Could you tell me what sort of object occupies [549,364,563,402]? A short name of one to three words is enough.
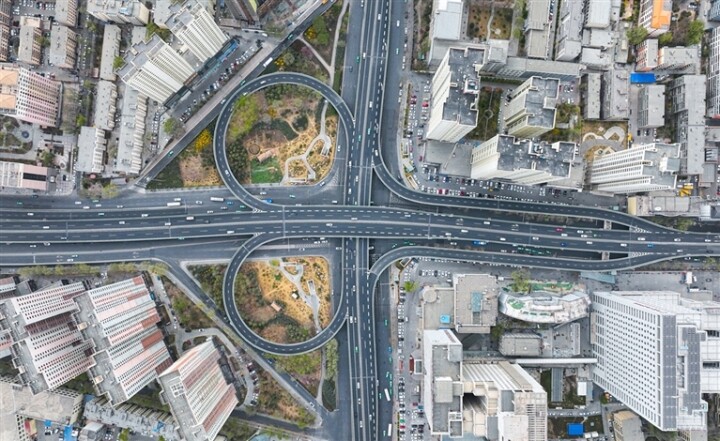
shed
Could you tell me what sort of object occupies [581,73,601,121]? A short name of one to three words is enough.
building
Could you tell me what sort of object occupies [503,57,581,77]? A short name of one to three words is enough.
building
